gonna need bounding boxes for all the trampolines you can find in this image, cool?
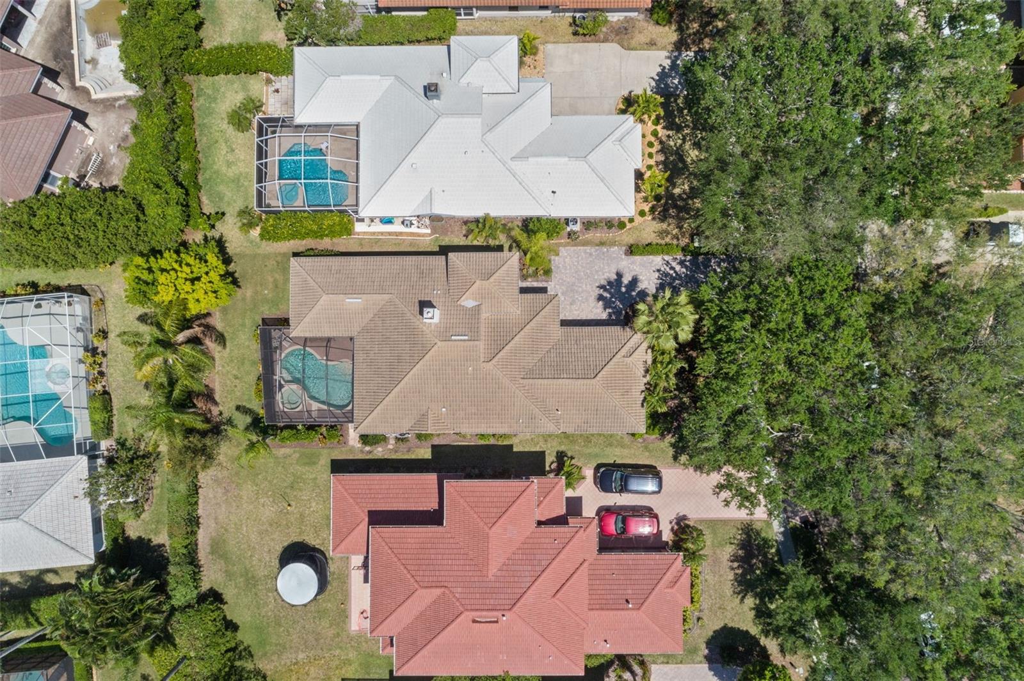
[276,550,330,605]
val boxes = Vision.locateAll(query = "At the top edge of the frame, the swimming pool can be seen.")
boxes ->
[69,0,150,100]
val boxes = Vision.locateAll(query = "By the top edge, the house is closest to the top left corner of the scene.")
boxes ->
[0,0,87,202]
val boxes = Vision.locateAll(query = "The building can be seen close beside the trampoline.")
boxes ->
[329,472,693,678]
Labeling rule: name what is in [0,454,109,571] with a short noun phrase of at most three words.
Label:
house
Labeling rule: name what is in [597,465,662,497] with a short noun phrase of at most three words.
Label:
car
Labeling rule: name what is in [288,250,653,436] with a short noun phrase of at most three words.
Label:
house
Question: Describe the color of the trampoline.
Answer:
white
